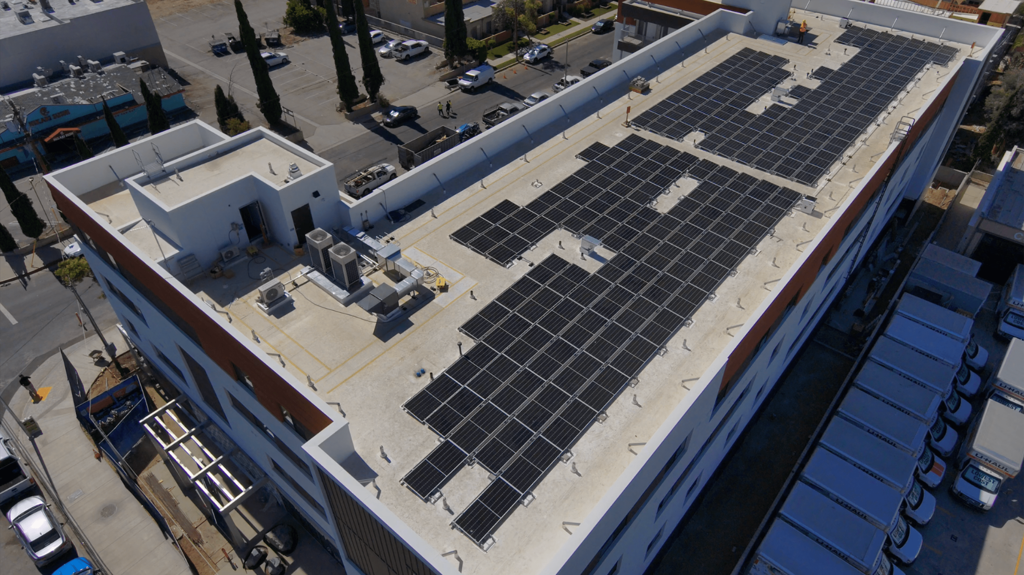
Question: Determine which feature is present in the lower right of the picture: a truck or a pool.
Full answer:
There is a truck in the lower right of the picture.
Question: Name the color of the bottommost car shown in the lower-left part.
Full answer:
In this view, the bottommost car shown in the lower-left part is blue.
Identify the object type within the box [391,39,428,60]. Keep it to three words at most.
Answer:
truck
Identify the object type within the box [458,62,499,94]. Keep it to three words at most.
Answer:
van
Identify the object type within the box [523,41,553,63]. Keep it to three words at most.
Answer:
car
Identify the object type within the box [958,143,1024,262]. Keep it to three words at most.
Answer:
building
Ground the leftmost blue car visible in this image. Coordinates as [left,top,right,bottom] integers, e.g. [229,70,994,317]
[48,552,99,575]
